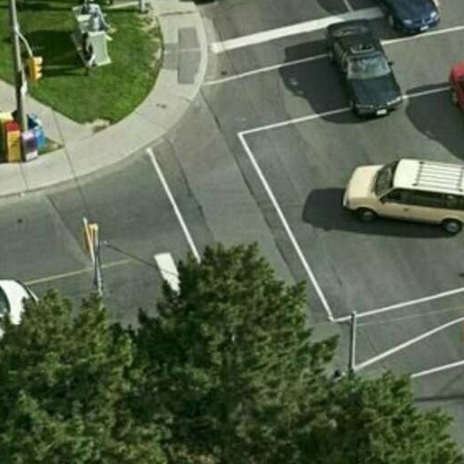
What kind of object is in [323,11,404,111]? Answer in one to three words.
car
